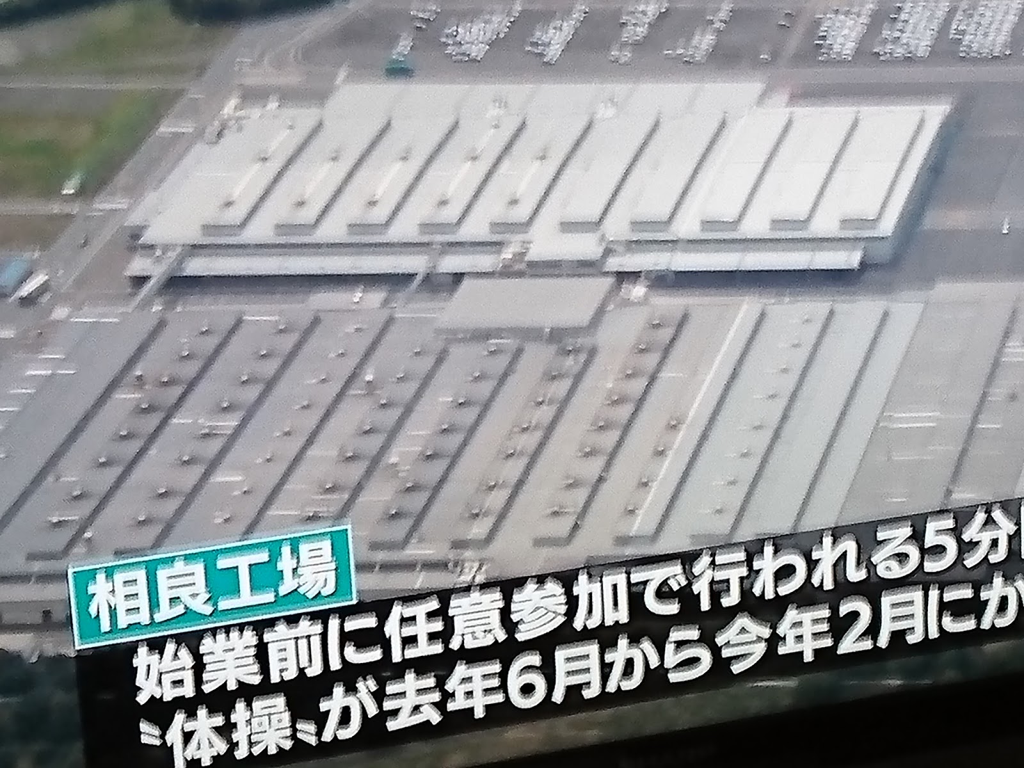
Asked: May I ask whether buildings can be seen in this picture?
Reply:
Yes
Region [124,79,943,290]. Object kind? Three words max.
building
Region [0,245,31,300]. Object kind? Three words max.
building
